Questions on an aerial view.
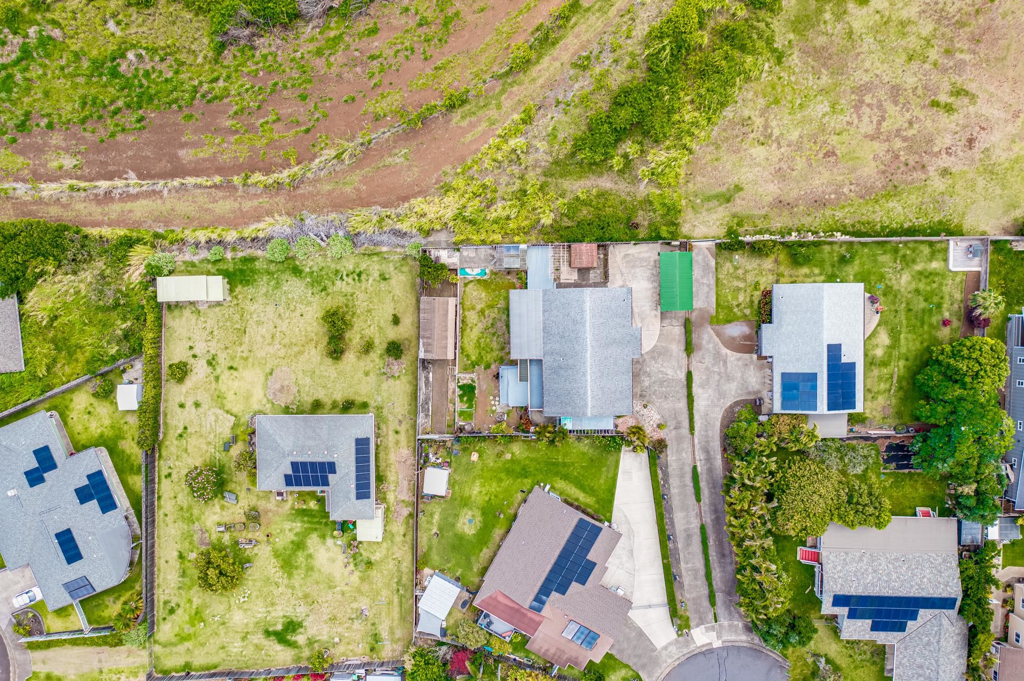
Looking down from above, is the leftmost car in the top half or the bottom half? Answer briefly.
bottom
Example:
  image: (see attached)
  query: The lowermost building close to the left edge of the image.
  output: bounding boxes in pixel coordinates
[0,410,136,612]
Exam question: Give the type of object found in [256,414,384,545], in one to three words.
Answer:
house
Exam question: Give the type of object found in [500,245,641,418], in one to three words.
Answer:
house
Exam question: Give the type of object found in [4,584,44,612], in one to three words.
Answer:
car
